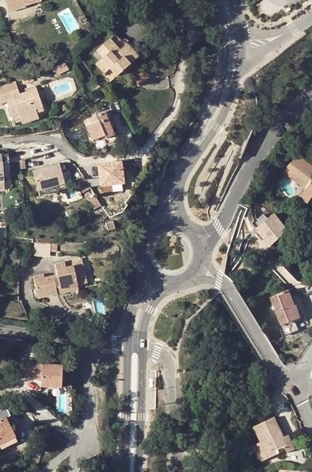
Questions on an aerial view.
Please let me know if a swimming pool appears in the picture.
Yes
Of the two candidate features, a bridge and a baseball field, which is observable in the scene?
bridge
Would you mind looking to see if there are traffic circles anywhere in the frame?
Yes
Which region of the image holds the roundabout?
center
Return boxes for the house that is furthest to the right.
[286,158,312,203]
